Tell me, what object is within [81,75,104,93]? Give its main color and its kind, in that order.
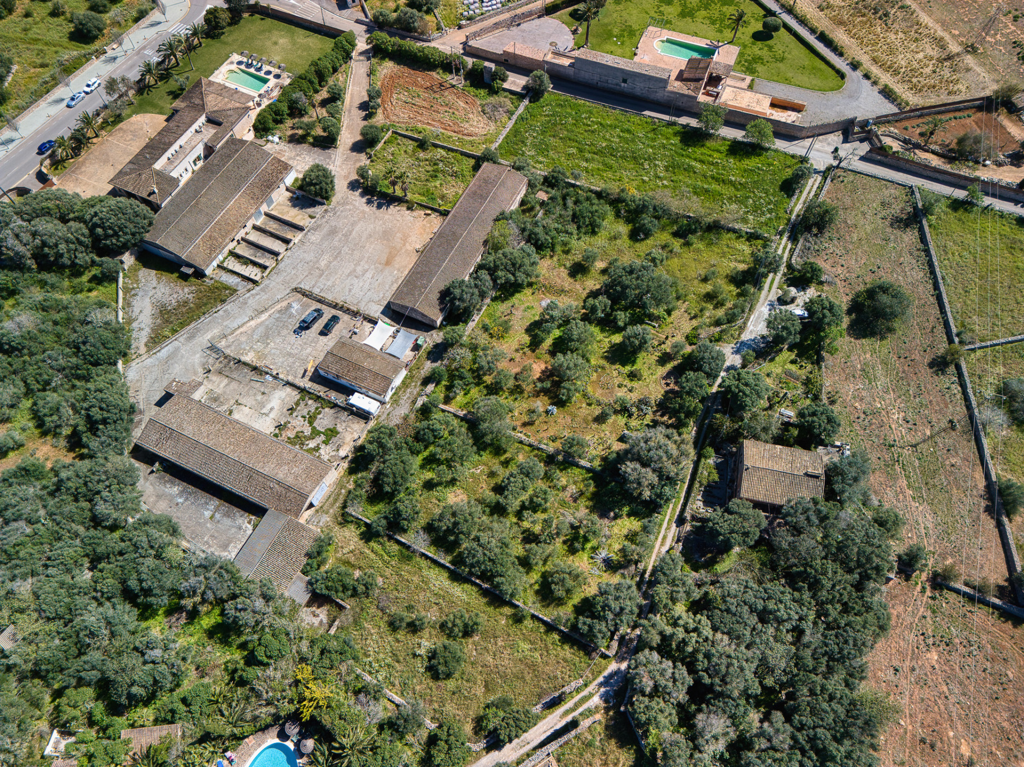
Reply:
white car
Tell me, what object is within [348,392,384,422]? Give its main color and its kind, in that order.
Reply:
white camper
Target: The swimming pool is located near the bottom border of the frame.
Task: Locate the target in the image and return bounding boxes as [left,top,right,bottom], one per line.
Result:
[243,737,302,767]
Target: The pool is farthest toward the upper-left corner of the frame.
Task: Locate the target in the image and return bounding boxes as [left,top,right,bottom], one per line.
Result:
[221,65,273,93]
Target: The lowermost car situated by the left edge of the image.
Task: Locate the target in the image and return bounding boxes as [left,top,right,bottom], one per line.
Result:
[35,135,56,154]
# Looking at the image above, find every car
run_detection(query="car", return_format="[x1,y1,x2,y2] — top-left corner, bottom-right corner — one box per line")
[81,75,104,93]
[317,312,342,338]
[35,135,56,154]
[785,306,811,321]
[65,90,88,108]
[295,306,327,332]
